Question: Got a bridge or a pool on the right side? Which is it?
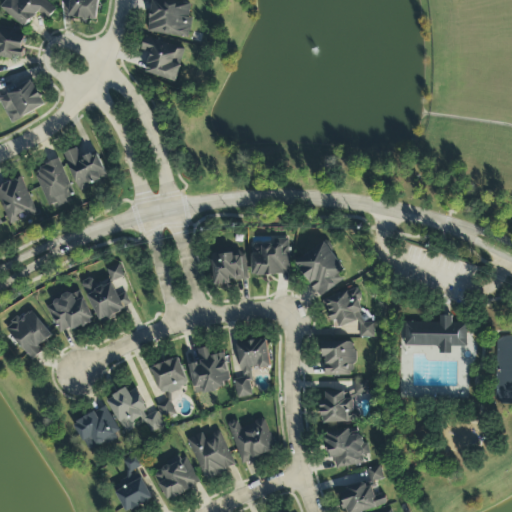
pool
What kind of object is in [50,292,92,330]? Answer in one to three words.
house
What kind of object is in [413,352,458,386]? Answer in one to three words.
swimming pool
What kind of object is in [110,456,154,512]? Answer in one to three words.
house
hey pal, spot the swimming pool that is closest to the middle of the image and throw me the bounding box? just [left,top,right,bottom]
[256,374,268,389]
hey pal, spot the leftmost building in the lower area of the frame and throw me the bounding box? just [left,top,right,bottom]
[8,308,54,356]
